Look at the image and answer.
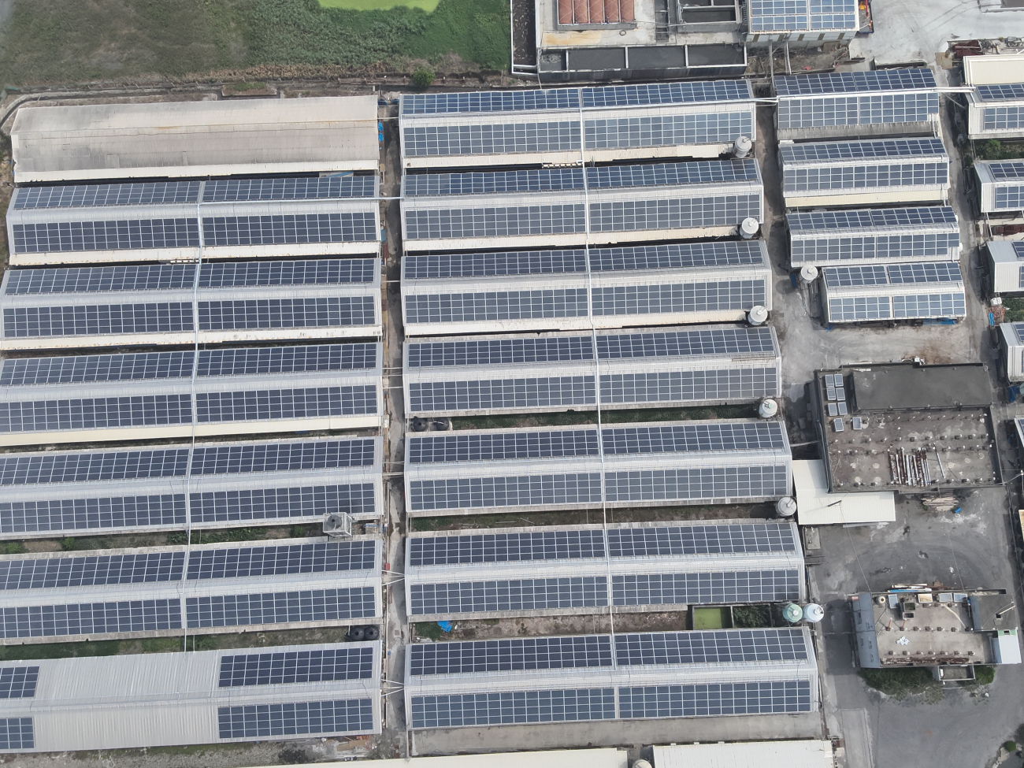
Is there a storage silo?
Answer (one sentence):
Yes, I can see a storage silo in this picture.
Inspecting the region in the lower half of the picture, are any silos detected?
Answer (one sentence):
Yes, a silo shows up in the lower half of the picture.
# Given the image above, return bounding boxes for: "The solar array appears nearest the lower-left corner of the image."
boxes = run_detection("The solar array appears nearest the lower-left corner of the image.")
[0,718,35,750]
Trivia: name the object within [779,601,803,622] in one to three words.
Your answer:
silo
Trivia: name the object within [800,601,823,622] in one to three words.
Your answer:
silo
